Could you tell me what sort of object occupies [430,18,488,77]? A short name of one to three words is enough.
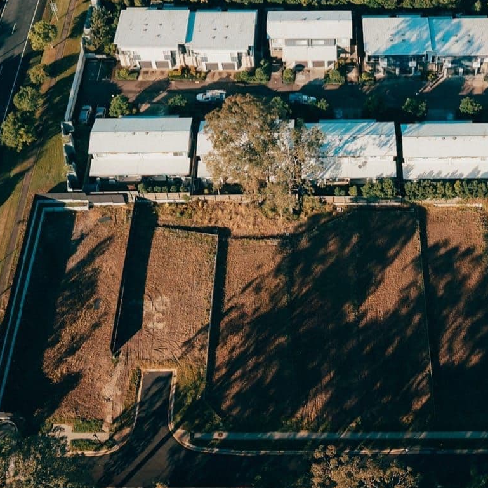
house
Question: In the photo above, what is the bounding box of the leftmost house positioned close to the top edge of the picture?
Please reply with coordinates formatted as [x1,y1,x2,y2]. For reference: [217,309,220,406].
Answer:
[113,10,194,68]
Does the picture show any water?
No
